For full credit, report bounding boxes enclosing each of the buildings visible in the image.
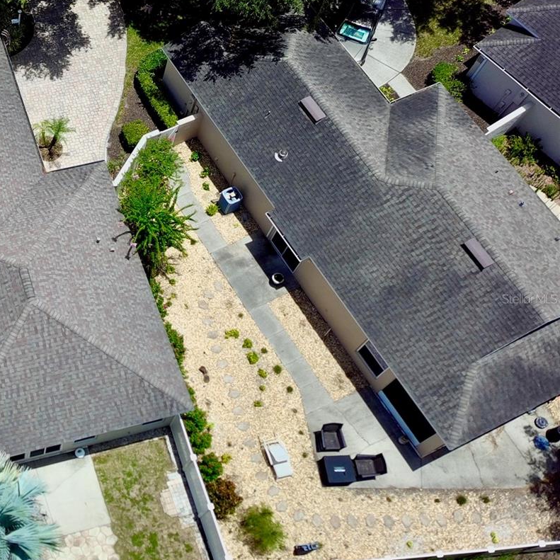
[0,33,195,456]
[162,6,560,455]
[463,0,560,167]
